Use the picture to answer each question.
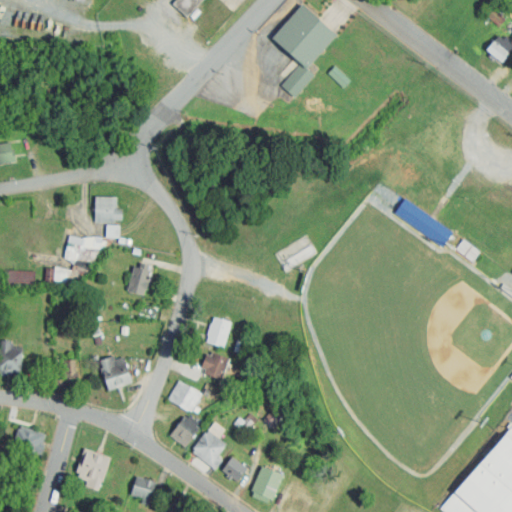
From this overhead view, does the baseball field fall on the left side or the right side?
right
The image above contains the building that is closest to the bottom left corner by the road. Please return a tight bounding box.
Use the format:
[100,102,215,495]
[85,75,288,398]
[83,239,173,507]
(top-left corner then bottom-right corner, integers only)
[14,426,48,454]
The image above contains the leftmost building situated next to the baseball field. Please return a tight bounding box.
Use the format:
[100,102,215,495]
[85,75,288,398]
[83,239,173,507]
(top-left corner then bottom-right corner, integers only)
[276,236,316,270]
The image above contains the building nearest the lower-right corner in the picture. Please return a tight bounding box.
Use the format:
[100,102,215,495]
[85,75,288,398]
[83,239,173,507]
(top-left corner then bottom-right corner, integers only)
[439,423,512,512]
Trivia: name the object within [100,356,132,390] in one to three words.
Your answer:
house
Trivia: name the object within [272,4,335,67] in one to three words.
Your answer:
barn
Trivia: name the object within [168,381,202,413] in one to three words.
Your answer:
house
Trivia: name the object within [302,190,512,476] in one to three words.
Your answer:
baseball field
